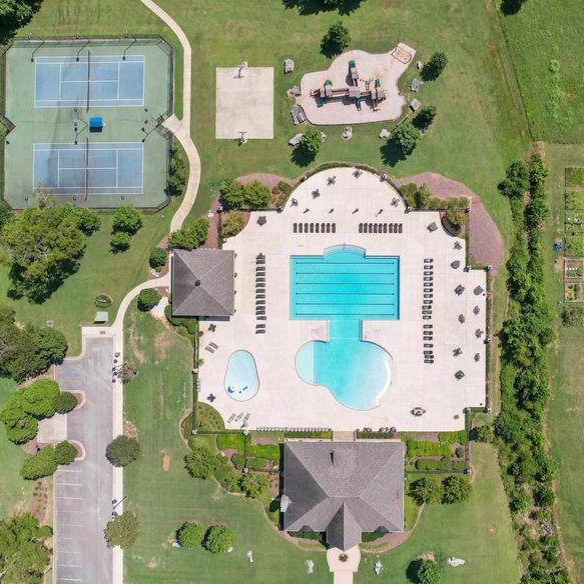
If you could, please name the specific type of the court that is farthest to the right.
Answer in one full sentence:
From above, the court that is farthest to the right can be identified as a basketball court.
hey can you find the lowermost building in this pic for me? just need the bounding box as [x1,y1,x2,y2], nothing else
[279,441,404,551]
